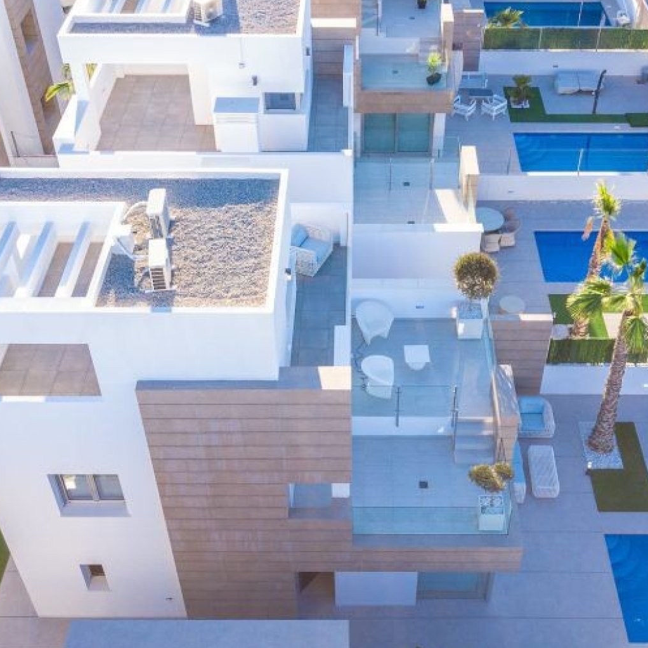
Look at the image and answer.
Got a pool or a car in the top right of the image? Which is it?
pool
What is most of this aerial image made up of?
buildings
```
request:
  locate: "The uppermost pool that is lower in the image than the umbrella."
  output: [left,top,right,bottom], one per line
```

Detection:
[510,131,648,170]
